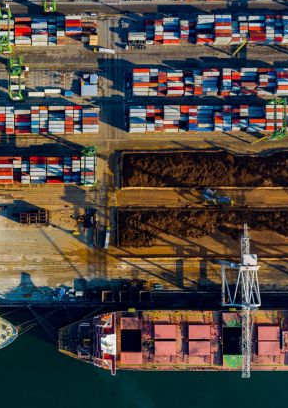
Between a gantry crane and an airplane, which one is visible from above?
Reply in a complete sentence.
There is a gantry crane in the scene.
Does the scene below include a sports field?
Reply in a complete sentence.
No, the scene contains no sports field.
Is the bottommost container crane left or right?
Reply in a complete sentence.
The bottommost container crane sits on the right side.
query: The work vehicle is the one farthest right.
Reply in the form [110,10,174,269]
[202,188,232,203]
